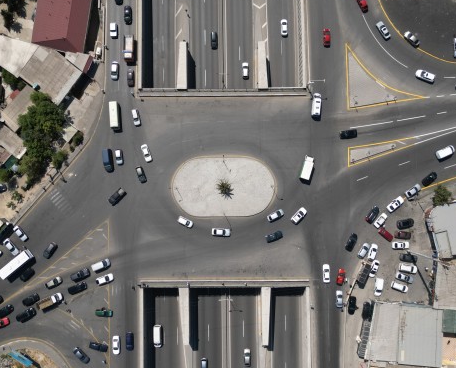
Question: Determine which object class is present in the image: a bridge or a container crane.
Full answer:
The one in the frame is a bridge.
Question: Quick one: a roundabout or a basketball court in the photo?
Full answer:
Looking from above, you can make out a roundabout.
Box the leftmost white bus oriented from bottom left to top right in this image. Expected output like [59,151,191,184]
[0,248,36,281]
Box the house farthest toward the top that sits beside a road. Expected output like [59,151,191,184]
[31,0,96,54]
